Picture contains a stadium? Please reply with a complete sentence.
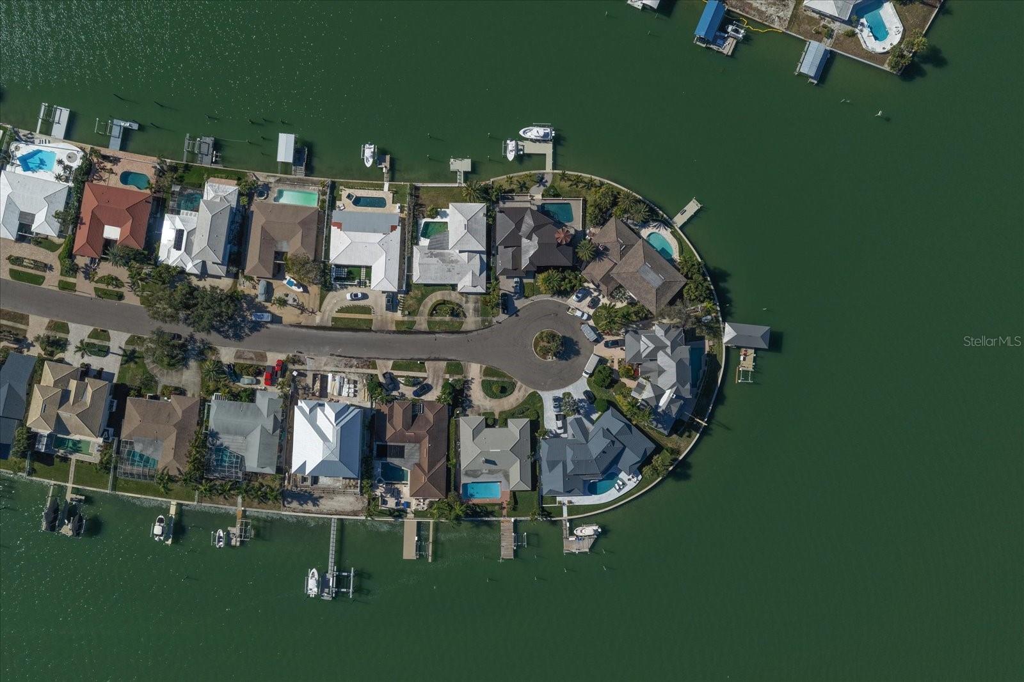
No, I can see no stadium in this picture.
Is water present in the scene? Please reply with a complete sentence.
Yes, there's water in this view.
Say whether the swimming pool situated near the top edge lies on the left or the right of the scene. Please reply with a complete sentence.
The swimming pool situated near the top edge sits on the right side.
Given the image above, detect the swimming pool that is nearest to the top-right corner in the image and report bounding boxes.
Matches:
[857,1,890,42]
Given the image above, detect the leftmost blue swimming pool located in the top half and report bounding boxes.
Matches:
[16,149,57,172]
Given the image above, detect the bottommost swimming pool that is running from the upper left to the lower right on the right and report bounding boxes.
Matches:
[647,231,674,258]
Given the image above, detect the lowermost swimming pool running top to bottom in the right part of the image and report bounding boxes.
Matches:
[691,345,704,385]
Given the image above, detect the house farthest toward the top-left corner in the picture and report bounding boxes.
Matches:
[0,170,69,240]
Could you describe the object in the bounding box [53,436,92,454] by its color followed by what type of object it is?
green swimming pool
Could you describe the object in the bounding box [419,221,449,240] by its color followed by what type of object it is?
green swimming pool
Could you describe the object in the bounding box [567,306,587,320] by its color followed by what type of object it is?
white vehicle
